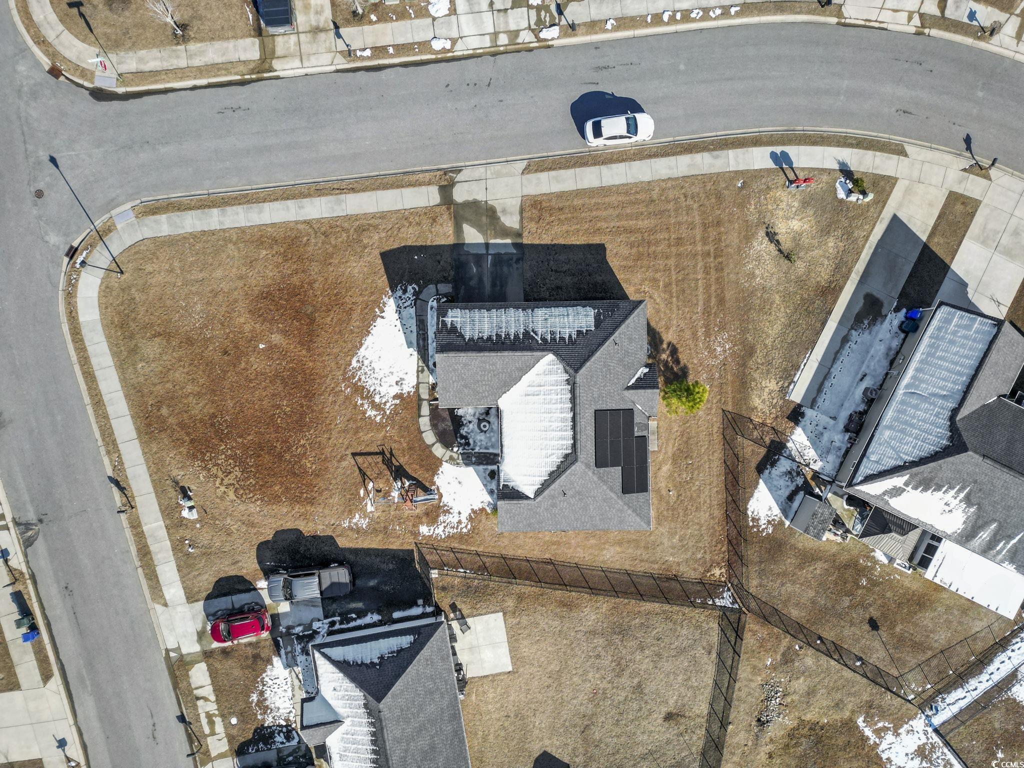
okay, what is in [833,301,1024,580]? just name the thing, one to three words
house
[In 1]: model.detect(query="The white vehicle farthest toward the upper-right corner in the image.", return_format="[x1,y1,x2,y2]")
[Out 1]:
[584,110,653,149]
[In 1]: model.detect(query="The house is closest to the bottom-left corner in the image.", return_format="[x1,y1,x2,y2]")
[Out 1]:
[300,613,472,768]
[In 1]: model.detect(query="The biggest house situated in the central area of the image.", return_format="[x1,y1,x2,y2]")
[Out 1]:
[434,299,661,533]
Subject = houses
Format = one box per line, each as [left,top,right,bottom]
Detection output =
[434,299,661,533]
[300,613,472,768]
[833,301,1024,580]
